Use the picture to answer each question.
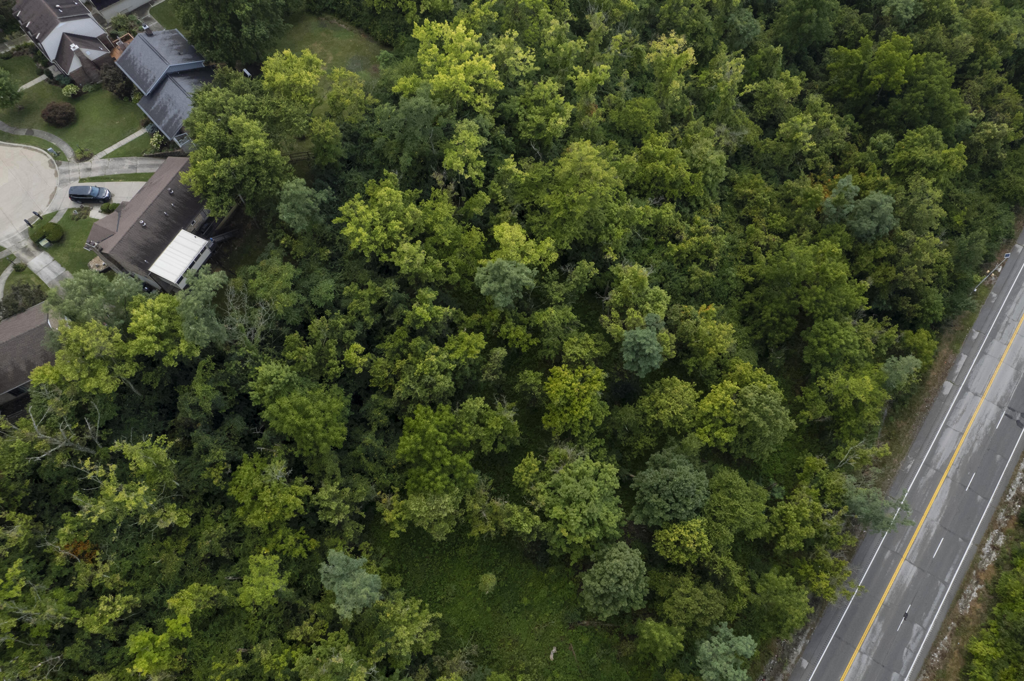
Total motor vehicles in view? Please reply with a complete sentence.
There is 1 motor vehicle in the image.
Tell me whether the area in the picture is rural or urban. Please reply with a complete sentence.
This place is rural.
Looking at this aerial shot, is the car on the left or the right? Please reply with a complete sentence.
It is on the left.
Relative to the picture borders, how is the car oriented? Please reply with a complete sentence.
The car is laid out from side to side.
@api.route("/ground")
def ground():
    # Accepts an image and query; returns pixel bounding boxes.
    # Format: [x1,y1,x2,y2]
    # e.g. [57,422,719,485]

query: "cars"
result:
[64,182,112,203]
